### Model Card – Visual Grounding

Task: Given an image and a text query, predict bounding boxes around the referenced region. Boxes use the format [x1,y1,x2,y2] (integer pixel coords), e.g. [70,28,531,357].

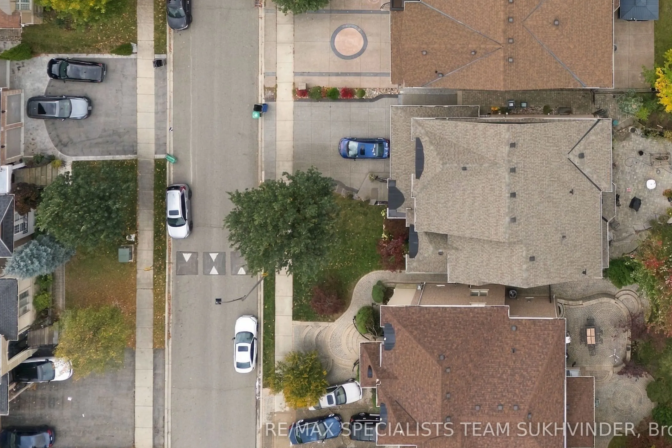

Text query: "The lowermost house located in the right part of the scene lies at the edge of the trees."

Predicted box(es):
[359,281,596,448]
